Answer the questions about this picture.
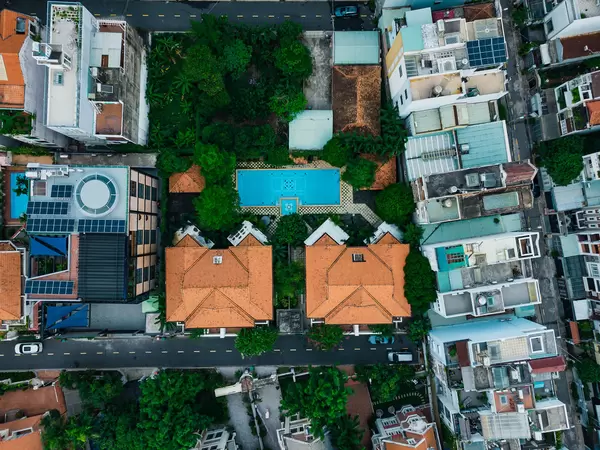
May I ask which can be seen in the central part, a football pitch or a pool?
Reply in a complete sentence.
Looking in the central part, you will find a pool.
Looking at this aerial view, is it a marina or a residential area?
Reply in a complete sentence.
This looks like a residential area.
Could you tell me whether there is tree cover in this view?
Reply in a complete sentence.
Yes, the picture does contain tree cover.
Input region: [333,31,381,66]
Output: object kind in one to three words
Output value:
building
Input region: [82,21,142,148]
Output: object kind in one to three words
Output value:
house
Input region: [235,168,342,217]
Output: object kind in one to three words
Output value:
swimming pool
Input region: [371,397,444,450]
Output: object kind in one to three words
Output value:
house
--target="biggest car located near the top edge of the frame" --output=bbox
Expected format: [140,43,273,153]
[333,4,359,18]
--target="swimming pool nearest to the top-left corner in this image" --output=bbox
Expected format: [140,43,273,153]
[8,172,27,224]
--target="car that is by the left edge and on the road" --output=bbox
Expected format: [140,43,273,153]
[16,341,44,355]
